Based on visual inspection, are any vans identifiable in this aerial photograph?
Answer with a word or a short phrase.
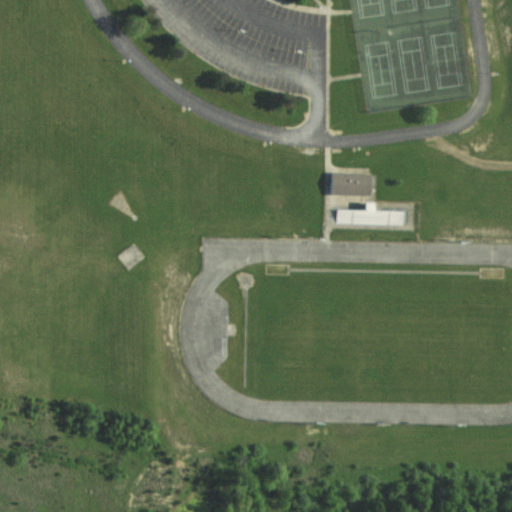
No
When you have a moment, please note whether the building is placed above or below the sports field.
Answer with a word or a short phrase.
above it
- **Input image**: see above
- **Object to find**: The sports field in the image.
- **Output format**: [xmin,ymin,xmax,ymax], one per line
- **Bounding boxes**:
[213,262,512,403]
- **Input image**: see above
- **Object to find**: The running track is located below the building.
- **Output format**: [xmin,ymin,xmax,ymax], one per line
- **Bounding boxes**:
[182,238,512,424]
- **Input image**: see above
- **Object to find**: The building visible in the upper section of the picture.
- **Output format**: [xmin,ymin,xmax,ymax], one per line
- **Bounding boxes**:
[330,174,372,195]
